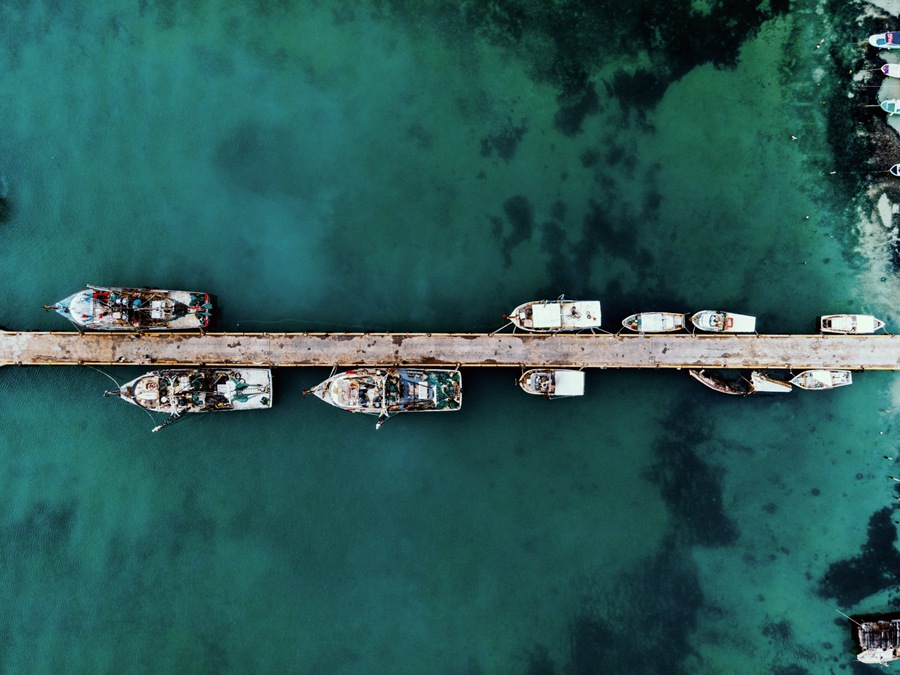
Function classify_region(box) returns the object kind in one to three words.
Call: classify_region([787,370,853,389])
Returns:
boat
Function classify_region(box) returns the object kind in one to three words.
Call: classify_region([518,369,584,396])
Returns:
boat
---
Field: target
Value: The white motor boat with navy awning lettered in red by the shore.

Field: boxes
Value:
[867,30,900,50]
